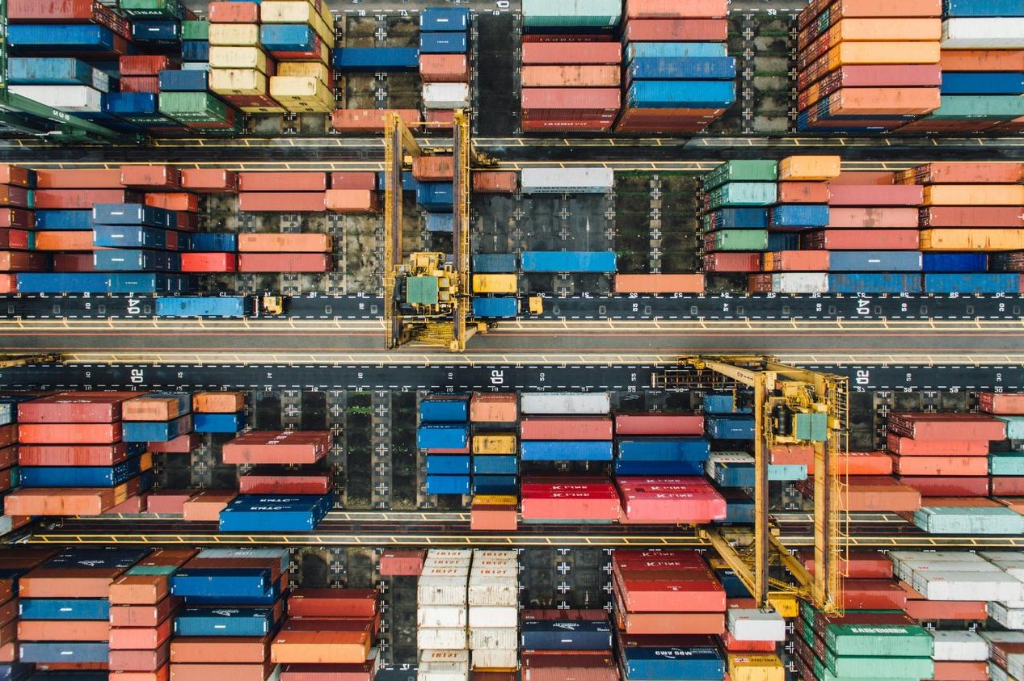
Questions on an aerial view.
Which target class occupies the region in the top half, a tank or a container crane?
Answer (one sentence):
What appears in the top half is a container crane.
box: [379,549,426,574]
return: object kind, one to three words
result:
shipping container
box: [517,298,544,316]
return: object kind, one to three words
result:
vehicle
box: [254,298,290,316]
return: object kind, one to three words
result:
vehicle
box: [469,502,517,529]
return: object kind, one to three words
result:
shipping container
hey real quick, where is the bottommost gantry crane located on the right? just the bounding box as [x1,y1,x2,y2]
[651,349,847,608]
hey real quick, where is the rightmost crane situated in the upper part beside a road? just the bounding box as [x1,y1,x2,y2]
[381,112,504,349]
